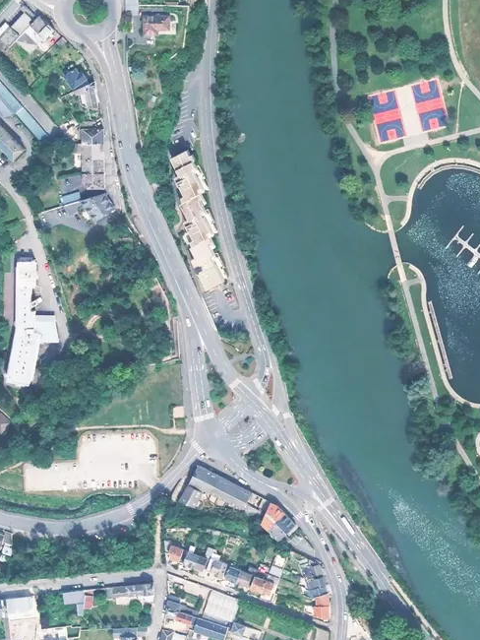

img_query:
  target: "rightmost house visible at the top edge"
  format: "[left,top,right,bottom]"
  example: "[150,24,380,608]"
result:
[142,12,169,31]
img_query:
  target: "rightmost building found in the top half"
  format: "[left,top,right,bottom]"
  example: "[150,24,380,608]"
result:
[169,151,228,289]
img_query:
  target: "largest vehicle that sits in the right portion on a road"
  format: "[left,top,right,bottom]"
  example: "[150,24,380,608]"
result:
[340,514,355,535]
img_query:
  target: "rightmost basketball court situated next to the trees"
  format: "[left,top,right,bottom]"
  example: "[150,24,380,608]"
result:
[411,78,448,133]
